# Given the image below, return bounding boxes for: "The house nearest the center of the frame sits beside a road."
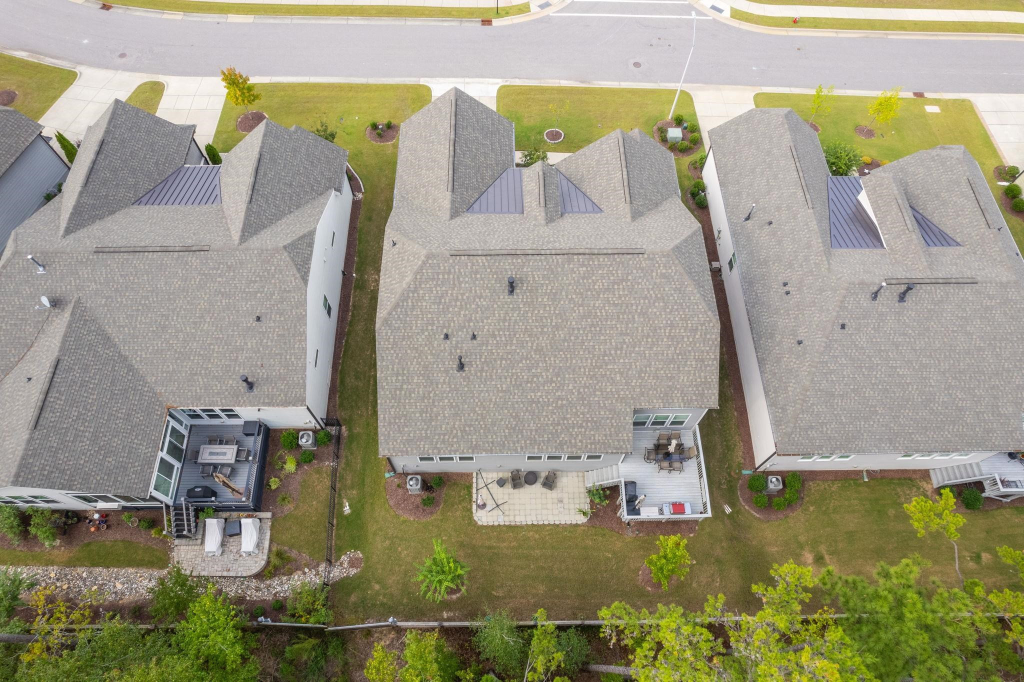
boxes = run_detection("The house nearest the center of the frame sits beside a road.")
[374,87,714,479]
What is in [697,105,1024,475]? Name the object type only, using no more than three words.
house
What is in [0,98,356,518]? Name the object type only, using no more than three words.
house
